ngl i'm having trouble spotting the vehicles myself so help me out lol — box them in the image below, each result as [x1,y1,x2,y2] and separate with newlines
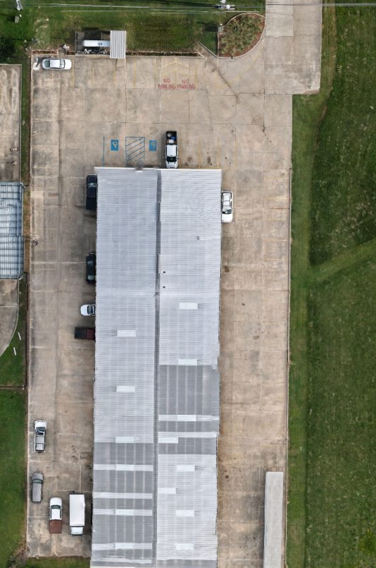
[221,192,234,223]
[40,56,72,71]
[73,327,95,339]
[30,472,45,503]
[83,175,95,212]
[81,302,95,317]
[163,130,180,169]
[47,497,63,534]
[83,253,95,285]
[68,492,85,536]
